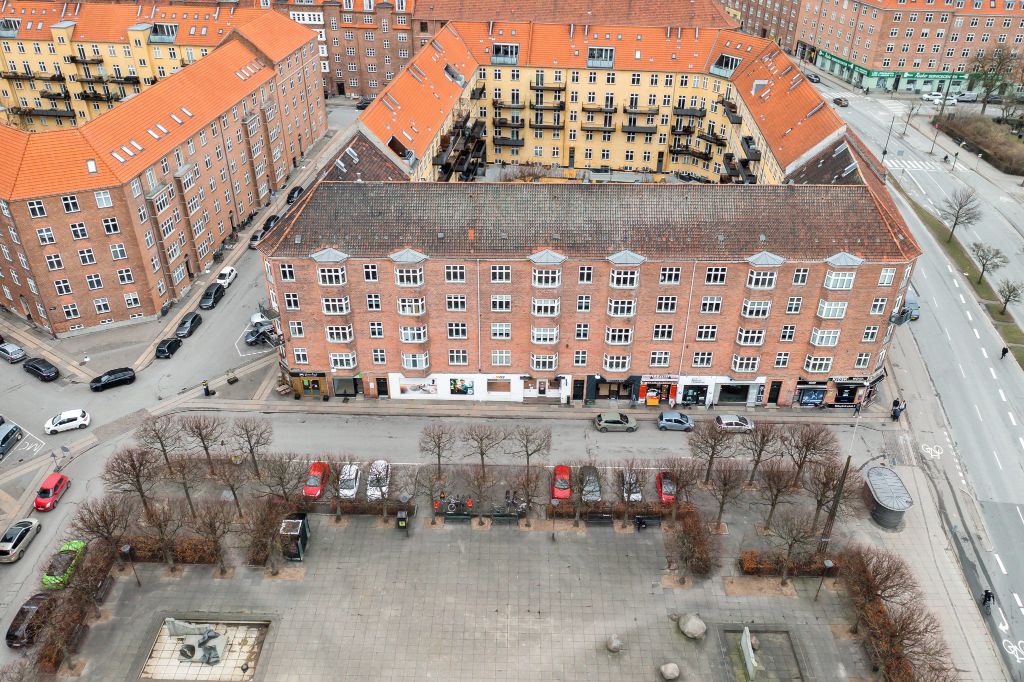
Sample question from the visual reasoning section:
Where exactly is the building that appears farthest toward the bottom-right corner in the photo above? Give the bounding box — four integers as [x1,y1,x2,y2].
[857,468,916,536]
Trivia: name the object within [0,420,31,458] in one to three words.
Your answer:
car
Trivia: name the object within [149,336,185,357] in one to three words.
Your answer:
car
